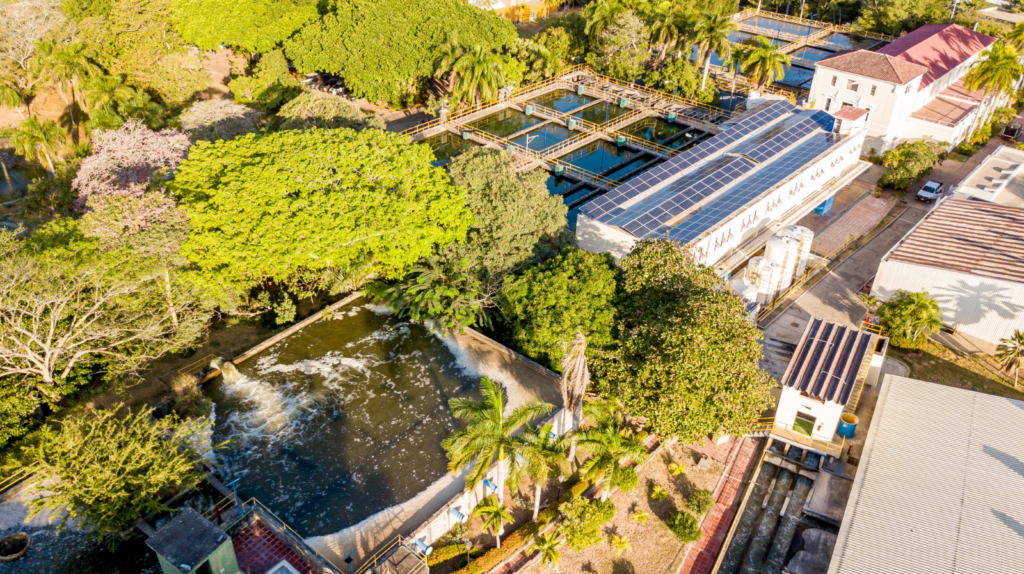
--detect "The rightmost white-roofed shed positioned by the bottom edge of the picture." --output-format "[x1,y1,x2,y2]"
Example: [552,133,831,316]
[833,376,1024,574]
